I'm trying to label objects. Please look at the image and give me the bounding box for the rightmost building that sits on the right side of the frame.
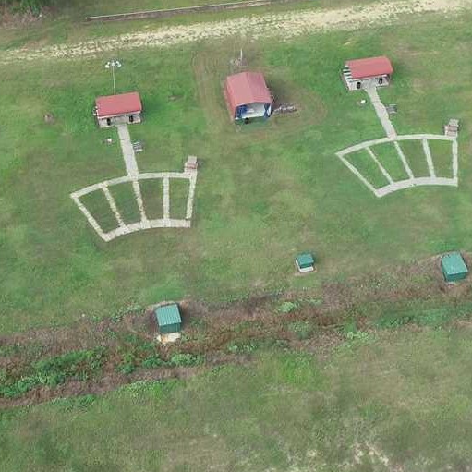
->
[438,251,467,278]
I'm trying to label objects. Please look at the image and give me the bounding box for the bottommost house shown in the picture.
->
[156,302,181,331]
